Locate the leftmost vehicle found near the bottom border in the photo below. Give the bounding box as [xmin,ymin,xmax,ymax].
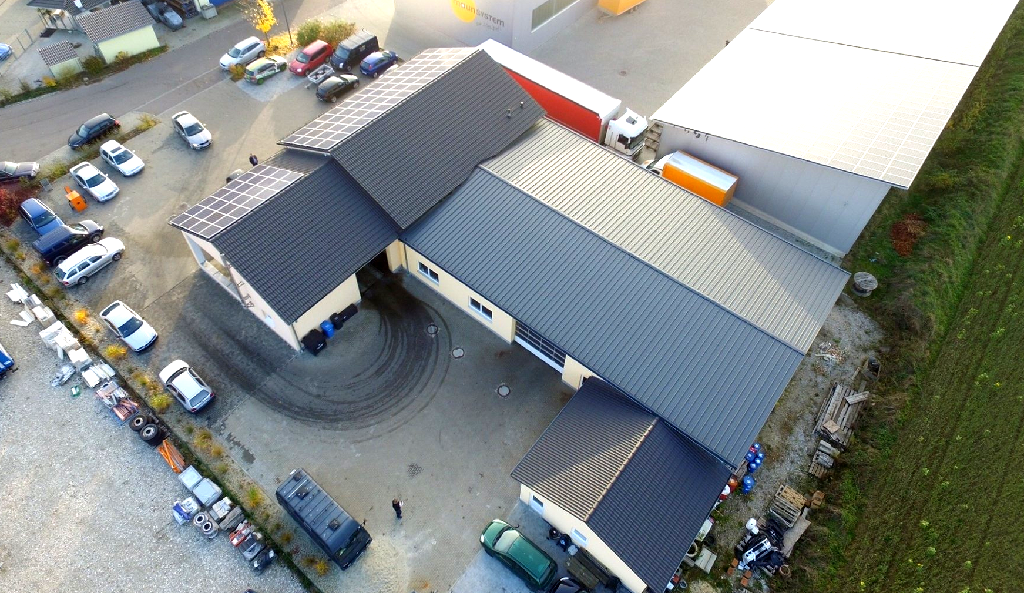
[274,467,373,570]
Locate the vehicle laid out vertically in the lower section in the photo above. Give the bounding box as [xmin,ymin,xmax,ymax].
[0,338,23,387]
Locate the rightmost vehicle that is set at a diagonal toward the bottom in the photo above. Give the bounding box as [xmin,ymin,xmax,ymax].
[482,518,557,591]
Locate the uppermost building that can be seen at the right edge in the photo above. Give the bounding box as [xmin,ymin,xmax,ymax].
[651,0,1017,262]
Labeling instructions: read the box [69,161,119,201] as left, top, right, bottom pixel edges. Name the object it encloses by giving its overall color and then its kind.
white car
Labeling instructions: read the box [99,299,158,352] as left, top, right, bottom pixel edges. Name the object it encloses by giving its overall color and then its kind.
white car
